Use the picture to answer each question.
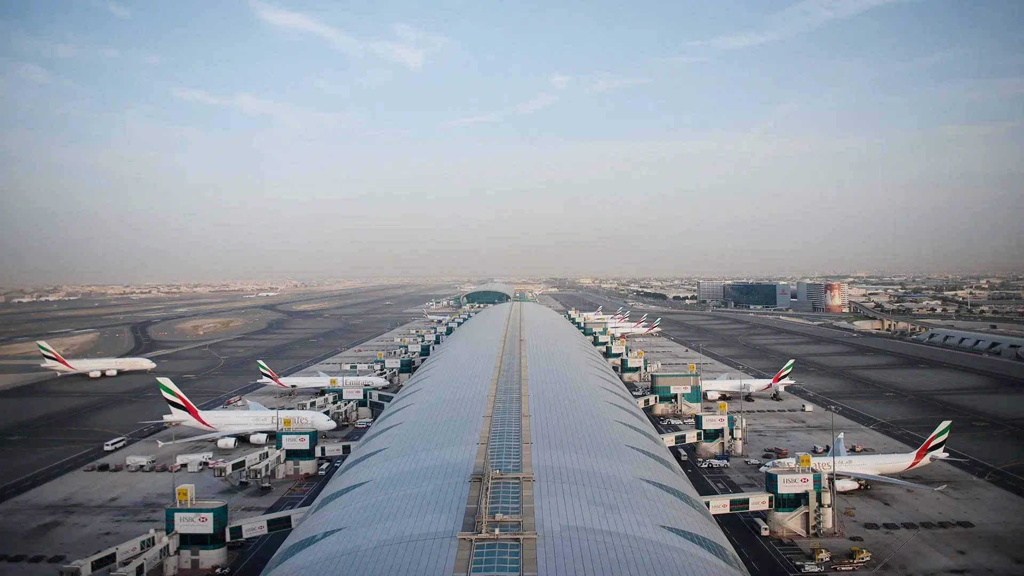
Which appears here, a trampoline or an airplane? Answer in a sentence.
Looking from above, you can make out an airplane.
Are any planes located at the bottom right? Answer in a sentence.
Yes, a plane is visible at the bottom right.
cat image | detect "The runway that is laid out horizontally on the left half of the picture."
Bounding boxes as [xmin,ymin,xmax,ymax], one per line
[0,286,446,340]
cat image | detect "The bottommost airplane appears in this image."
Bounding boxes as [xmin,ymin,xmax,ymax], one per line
[816,433,965,498]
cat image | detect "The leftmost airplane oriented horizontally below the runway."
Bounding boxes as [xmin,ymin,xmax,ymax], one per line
[29,338,159,380]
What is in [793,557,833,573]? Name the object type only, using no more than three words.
work vehicle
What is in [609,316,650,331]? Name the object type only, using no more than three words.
airplane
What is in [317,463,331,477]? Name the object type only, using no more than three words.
vehicle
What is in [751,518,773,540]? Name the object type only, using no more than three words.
bus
